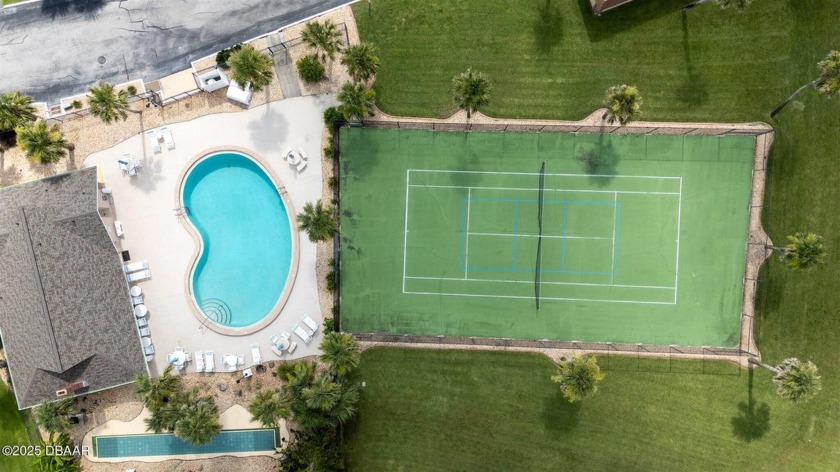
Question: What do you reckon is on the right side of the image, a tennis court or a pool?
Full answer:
There is a tennis court on the right side of the image.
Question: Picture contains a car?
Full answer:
No, the picture doesn't show any car.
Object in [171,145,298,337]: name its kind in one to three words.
swimming pool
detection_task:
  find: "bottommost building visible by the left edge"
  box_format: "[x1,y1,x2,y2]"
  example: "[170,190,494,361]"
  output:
[0,166,149,410]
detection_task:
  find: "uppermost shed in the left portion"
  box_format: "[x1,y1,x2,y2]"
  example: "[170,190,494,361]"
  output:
[228,79,256,104]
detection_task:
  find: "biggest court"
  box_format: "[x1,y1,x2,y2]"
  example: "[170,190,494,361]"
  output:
[340,127,756,348]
